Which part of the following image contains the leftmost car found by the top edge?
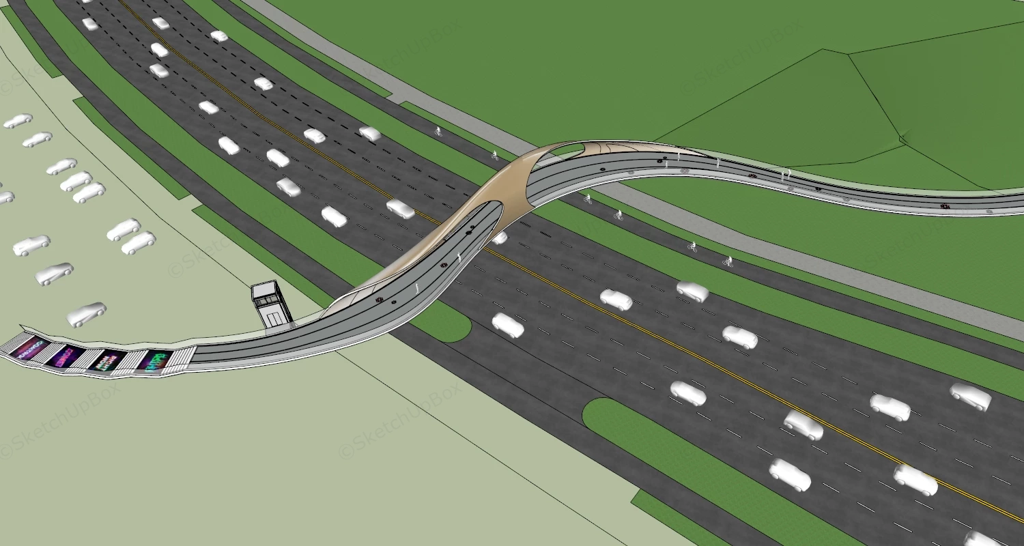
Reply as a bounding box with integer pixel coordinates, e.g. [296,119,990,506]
[83,18,98,30]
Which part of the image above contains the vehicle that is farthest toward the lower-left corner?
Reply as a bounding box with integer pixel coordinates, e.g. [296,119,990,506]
[66,303,105,328]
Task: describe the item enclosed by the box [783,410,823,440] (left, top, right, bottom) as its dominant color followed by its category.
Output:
white car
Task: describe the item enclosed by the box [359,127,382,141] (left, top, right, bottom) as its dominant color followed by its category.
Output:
white vehicle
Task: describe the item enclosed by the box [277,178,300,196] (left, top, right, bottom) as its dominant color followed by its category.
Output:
white car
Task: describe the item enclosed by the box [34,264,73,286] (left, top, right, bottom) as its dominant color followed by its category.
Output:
white vehicle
